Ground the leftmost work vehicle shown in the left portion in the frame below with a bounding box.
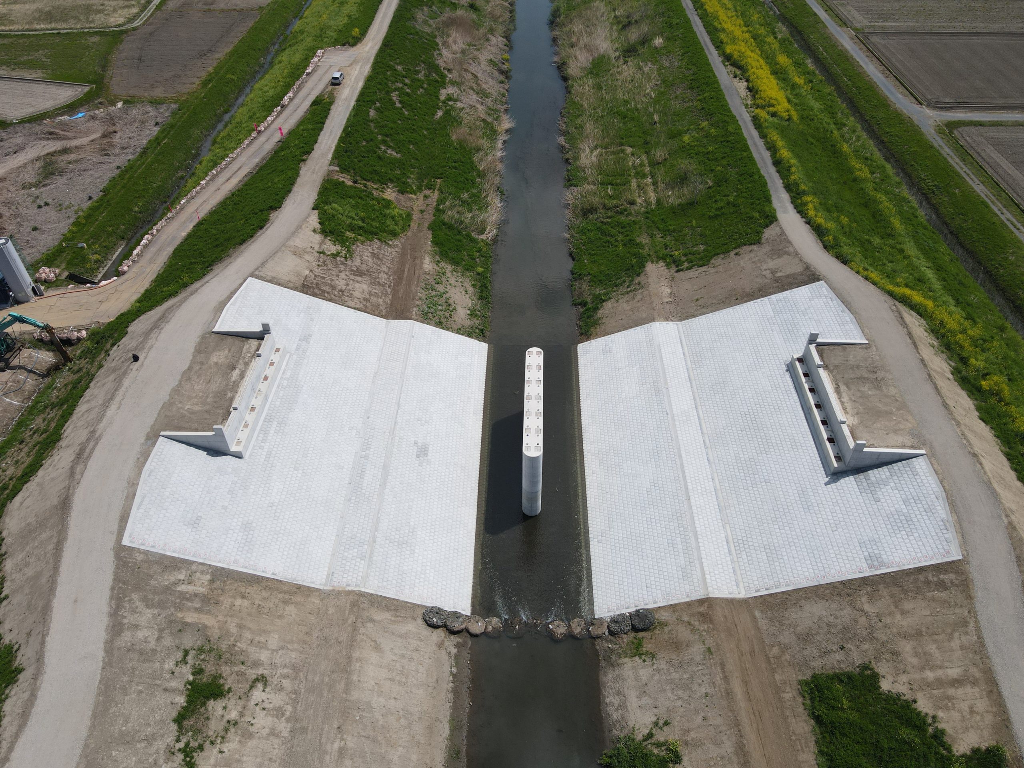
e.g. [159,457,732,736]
[0,308,75,369]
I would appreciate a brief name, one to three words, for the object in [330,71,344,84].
vehicle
